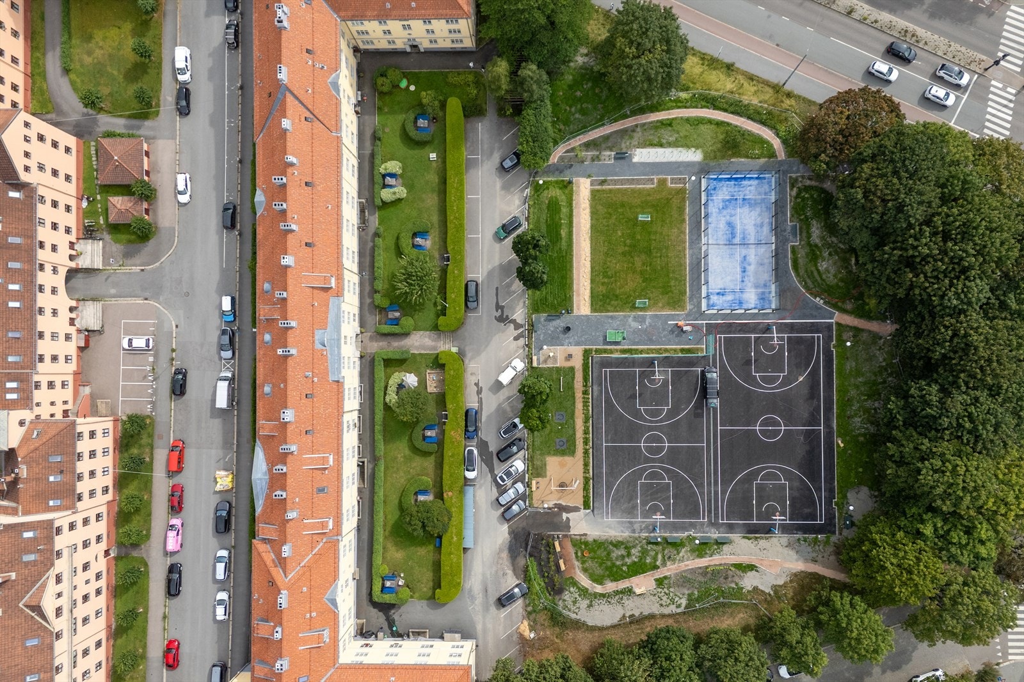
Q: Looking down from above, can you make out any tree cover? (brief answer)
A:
Yes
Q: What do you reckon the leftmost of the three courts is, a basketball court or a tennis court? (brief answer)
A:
basketball court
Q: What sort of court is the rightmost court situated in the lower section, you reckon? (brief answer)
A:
basketball court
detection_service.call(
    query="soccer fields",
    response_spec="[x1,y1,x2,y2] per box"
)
[591,178,687,313]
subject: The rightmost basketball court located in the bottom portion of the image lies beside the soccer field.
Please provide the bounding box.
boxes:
[706,322,836,535]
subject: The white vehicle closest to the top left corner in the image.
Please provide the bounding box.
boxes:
[176,46,192,82]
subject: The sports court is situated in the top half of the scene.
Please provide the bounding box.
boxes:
[701,168,782,313]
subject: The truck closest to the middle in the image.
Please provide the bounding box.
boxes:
[496,358,528,387]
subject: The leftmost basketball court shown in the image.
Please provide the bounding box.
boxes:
[592,354,712,535]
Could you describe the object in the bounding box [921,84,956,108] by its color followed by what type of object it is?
white car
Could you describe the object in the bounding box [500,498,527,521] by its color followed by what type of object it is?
gray car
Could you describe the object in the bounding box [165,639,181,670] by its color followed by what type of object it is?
red car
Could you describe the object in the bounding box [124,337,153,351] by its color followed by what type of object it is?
white car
